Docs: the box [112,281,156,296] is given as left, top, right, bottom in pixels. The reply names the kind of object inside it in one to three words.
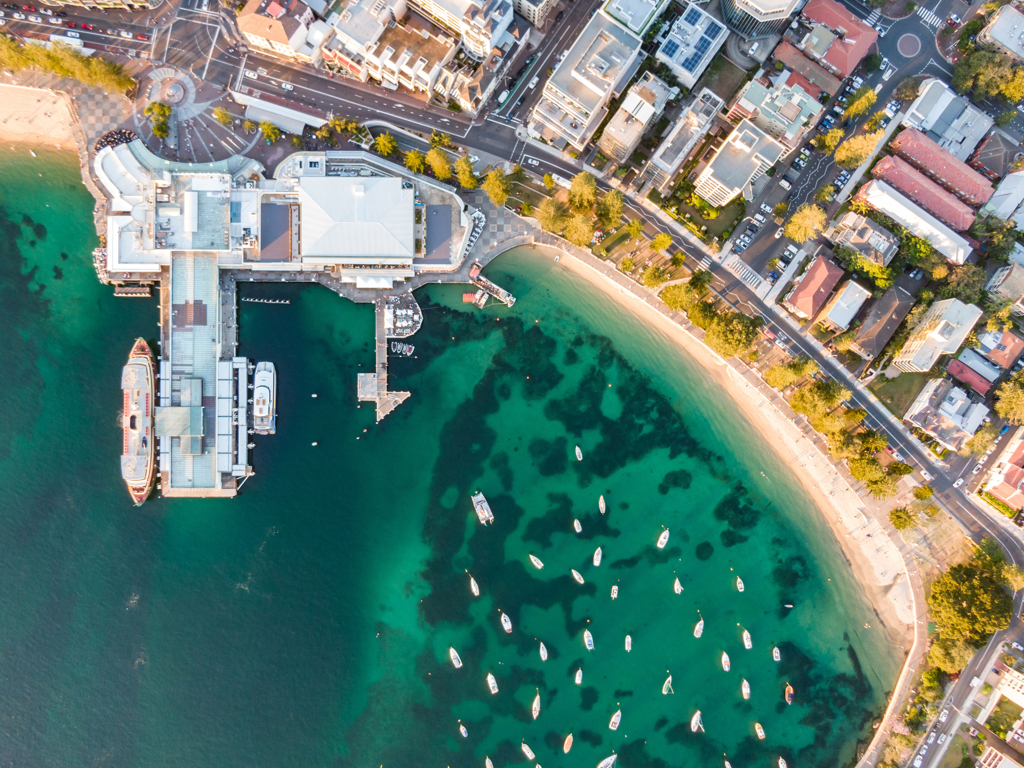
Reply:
pier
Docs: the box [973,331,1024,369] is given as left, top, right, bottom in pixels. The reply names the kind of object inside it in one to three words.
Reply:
house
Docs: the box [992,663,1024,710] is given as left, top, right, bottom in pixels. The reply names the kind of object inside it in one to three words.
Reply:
building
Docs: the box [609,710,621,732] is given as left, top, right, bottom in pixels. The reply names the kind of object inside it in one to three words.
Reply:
boat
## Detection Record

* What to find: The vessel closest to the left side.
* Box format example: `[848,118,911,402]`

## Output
[120,337,159,507]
